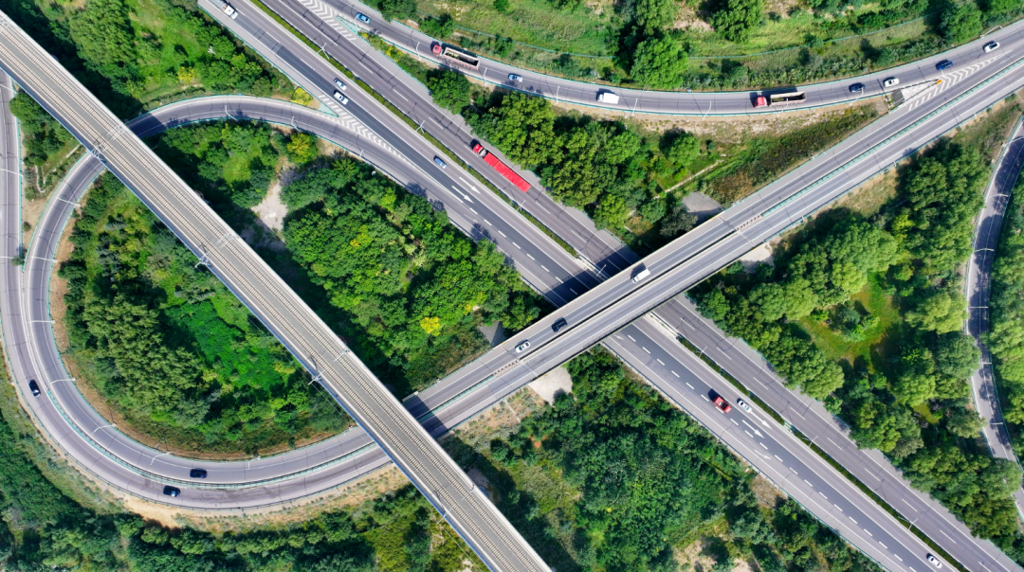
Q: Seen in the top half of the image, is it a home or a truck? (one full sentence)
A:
The feature located in the top half of the image is a truck.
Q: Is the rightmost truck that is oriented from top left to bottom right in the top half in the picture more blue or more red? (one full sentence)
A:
From above, the rightmost truck that is oriented from top left to bottom right in the top half appears red.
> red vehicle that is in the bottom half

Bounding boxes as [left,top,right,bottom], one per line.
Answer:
[713,396,731,412]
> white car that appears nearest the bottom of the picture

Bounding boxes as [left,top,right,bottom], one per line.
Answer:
[925,554,941,568]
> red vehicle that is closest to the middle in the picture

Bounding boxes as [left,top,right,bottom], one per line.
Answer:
[473,141,536,195]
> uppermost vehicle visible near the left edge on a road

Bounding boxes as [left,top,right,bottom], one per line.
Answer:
[29,379,41,396]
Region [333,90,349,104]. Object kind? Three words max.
car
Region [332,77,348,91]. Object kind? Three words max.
car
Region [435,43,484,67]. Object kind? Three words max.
truck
